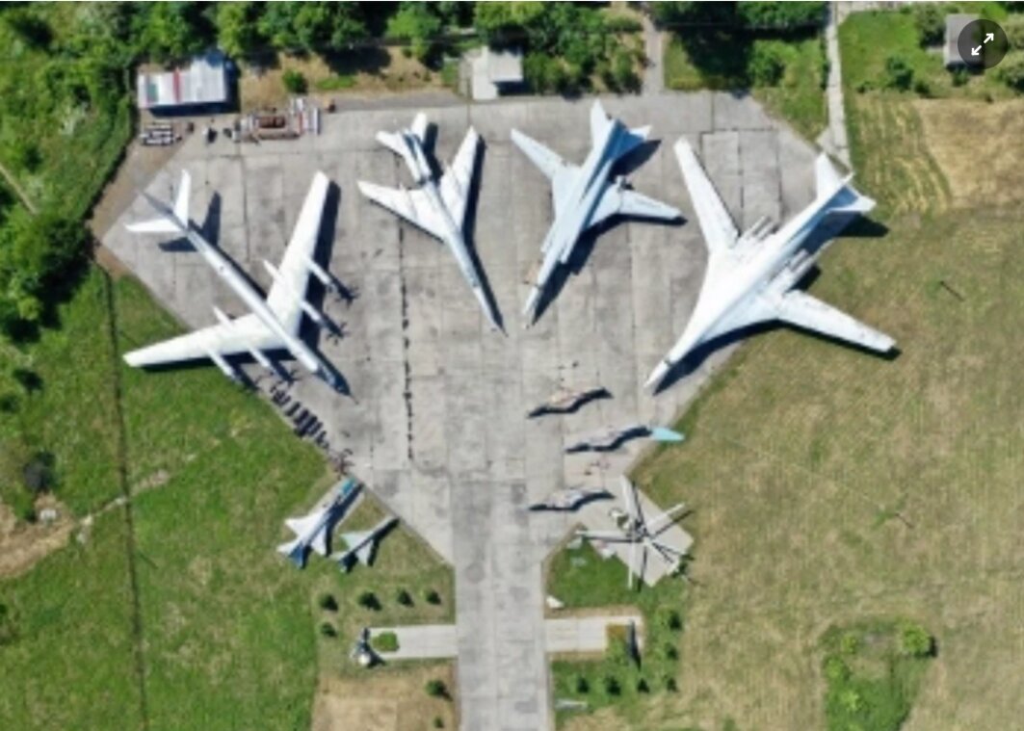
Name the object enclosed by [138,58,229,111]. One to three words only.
shed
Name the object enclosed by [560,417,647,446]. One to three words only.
airplane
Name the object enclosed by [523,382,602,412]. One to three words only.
airplane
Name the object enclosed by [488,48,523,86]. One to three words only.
shed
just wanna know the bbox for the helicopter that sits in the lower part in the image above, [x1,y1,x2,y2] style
[575,473,689,590]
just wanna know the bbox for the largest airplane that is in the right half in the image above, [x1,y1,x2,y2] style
[644,134,895,386]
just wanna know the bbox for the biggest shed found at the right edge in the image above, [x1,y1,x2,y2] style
[940,14,984,66]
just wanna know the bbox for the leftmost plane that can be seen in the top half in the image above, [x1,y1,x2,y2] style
[125,170,347,390]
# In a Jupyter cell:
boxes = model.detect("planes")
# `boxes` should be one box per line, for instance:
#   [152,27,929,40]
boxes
[329,514,397,572]
[560,417,647,446]
[644,134,895,386]
[358,110,501,338]
[509,101,681,319]
[523,382,602,412]
[276,475,355,569]
[125,170,347,390]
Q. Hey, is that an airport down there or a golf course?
airport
